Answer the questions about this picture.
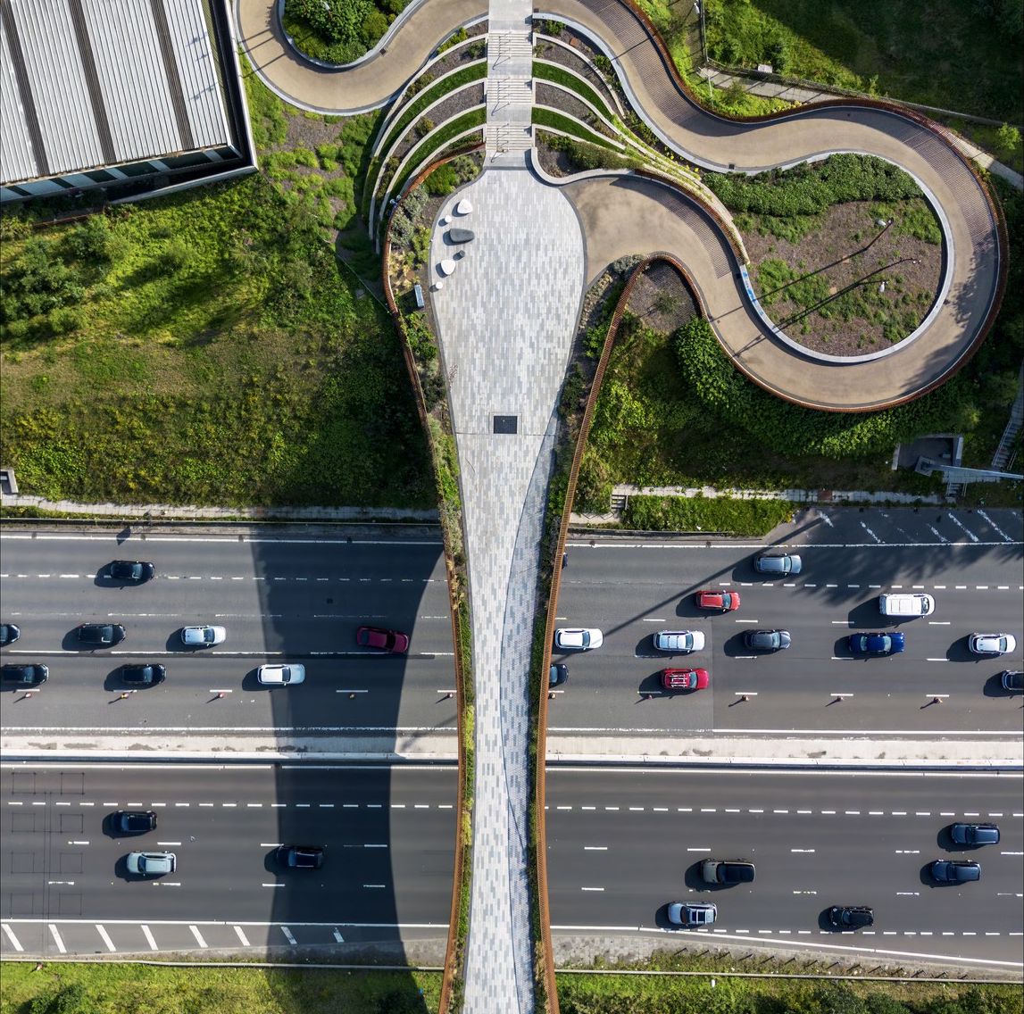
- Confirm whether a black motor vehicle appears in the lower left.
Yes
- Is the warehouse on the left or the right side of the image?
left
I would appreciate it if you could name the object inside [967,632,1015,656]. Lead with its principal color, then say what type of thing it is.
white car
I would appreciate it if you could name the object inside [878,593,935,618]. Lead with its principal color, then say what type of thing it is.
white vehicle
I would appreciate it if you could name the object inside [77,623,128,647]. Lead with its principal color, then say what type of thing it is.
black car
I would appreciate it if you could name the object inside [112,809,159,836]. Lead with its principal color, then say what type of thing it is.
black car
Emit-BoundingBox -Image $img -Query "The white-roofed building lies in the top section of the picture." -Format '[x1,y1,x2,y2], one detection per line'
[0,0,251,220]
